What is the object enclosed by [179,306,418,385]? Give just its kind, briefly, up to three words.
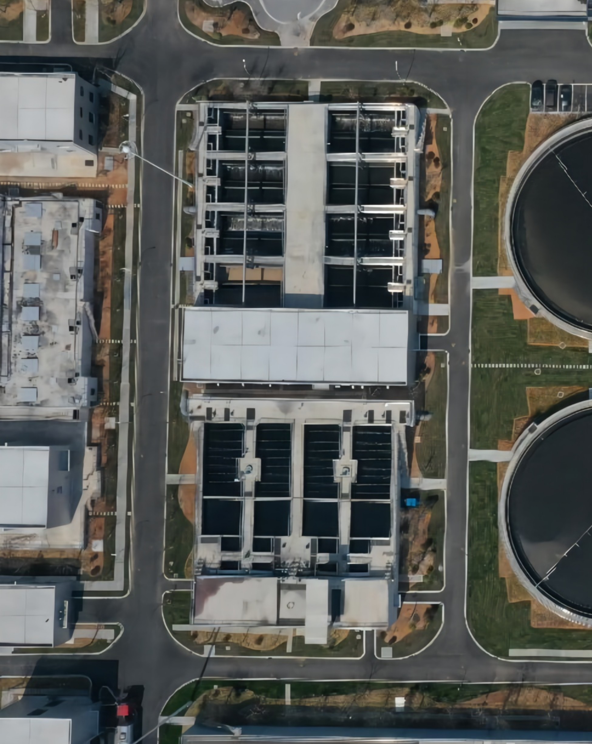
building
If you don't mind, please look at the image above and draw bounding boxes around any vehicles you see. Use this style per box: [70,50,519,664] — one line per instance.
[532,82,544,110]
[116,700,140,744]
[559,83,572,113]
[545,81,558,110]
